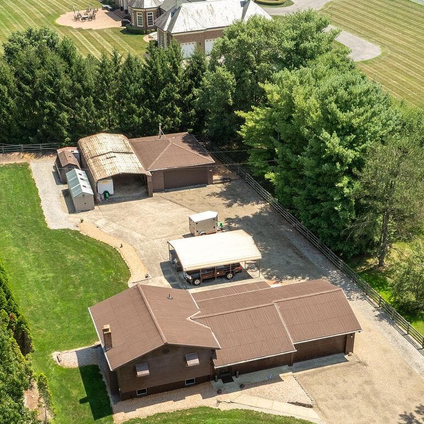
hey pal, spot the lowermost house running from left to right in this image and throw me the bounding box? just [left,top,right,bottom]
[85,279,369,401]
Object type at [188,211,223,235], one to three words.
trailer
